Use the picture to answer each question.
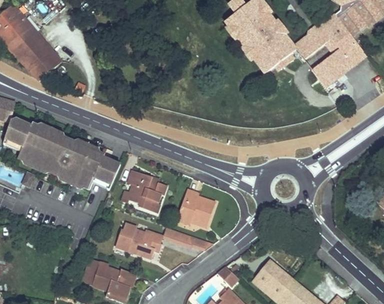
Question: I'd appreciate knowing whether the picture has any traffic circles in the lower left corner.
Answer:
No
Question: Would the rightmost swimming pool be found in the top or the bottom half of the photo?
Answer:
bottom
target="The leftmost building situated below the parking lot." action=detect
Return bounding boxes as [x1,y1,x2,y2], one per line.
[84,259,137,304]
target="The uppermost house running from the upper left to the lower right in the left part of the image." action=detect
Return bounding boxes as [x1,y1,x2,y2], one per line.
[0,6,62,77]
